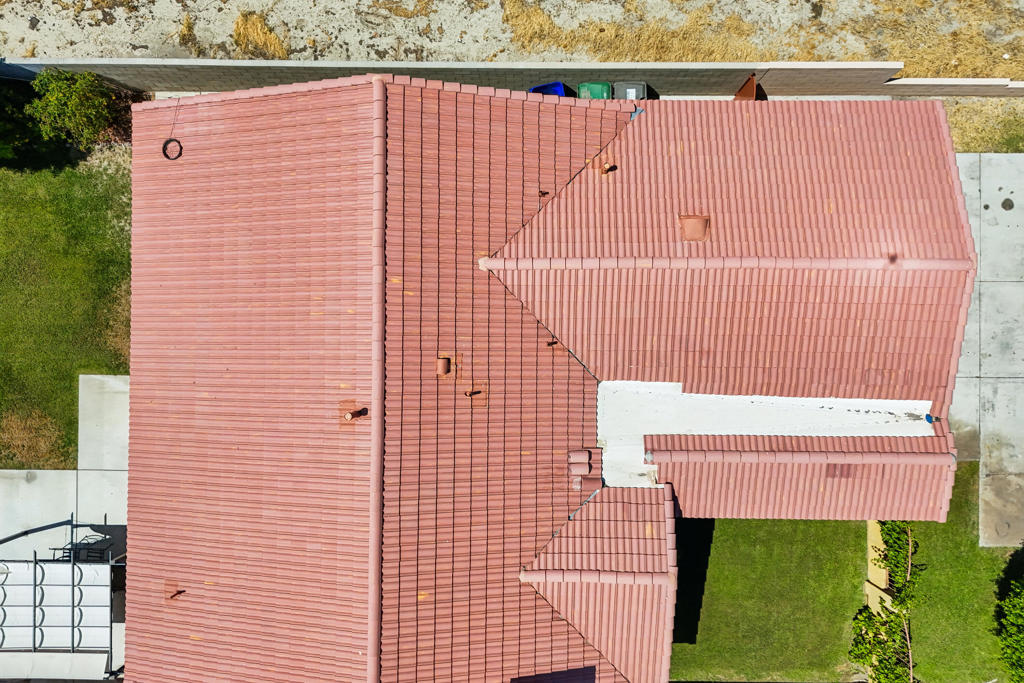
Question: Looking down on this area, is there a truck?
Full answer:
No, the frame has no truck in it.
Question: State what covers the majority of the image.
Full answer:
The scene is dominated by buildings.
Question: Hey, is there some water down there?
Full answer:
No, there's no water in this view.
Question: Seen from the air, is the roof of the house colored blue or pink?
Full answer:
The roof of the house is pink.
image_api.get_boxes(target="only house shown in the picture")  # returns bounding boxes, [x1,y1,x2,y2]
[124,70,979,683]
